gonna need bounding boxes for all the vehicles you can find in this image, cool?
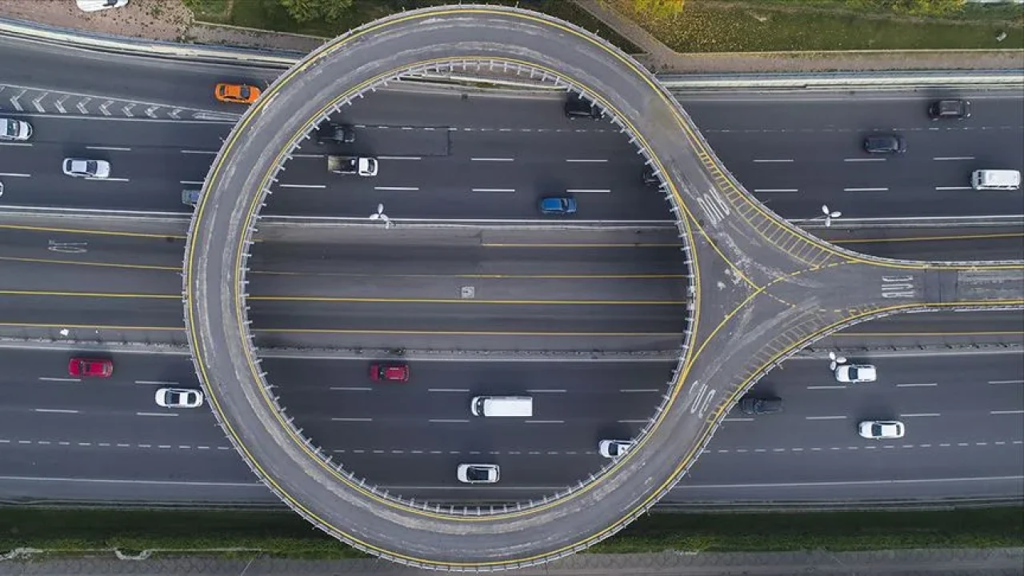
[370,362,410,384]
[857,419,903,441]
[70,0,129,13]
[312,122,357,144]
[739,395,783,417]
[0,118,35,140]
[642,167,667,186]
[833,363,876,385]
[156,387,204,410]
[926,97,972,121]
[563,96,608,117]
[472,394,533,418]
[62,157,112,179]
[458,463,500,486]
[328,155,378,178]
[539,195,578,216]
[598,438,636,459]
[215,82,262,104]
[968,168,1019,192]
[69,357,115,379]
[182,188,204,206]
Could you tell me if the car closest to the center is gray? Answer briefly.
No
